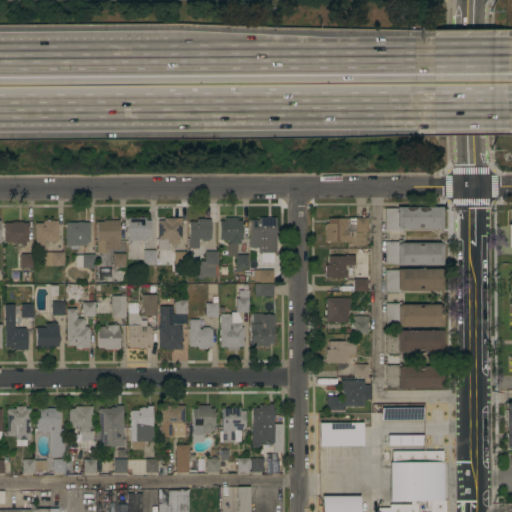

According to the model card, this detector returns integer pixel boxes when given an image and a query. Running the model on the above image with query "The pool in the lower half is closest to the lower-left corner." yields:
[38,435,50,456]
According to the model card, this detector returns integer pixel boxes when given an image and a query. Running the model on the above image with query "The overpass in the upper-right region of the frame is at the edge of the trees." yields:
[436,30,510,135]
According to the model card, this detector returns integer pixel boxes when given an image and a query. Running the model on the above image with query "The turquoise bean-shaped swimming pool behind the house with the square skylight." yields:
[194,437,214,453]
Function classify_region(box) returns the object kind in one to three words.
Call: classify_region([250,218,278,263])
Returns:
house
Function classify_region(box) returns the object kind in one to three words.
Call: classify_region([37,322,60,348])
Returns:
house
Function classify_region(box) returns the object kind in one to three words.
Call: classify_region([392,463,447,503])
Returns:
building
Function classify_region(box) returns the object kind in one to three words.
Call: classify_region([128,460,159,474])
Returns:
building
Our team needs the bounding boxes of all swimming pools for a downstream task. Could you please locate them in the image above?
[36,288,48,311]
[194,437,214,453]
[38,435,50,456]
